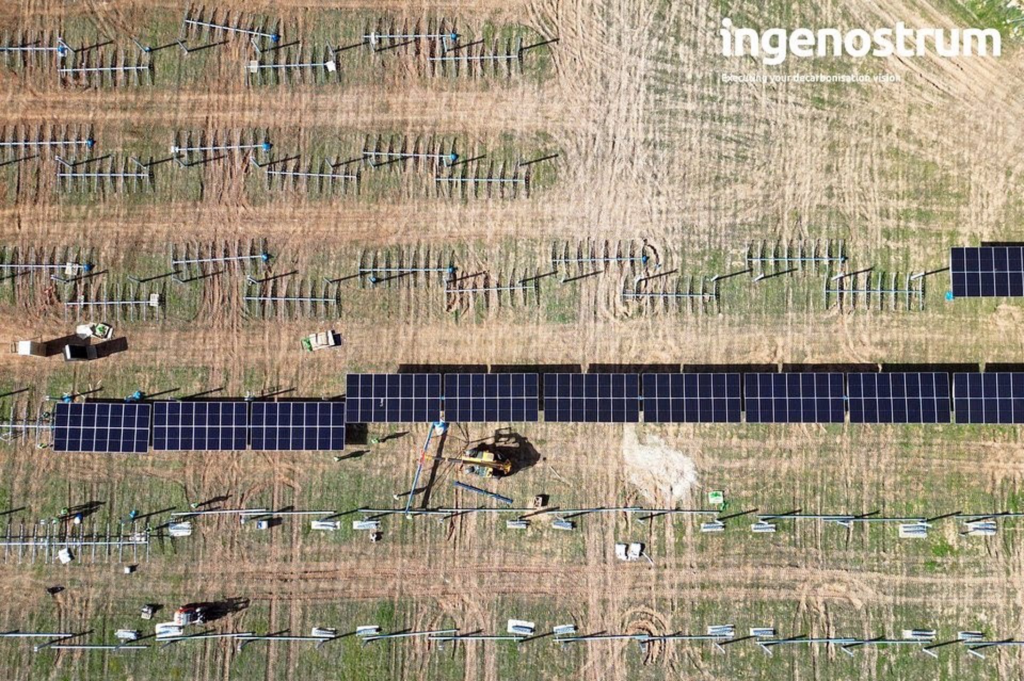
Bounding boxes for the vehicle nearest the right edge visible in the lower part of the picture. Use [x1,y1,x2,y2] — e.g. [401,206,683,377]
[419,447,512,479]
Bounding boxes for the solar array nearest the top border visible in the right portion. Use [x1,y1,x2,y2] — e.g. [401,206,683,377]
[948,246,1024,297]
